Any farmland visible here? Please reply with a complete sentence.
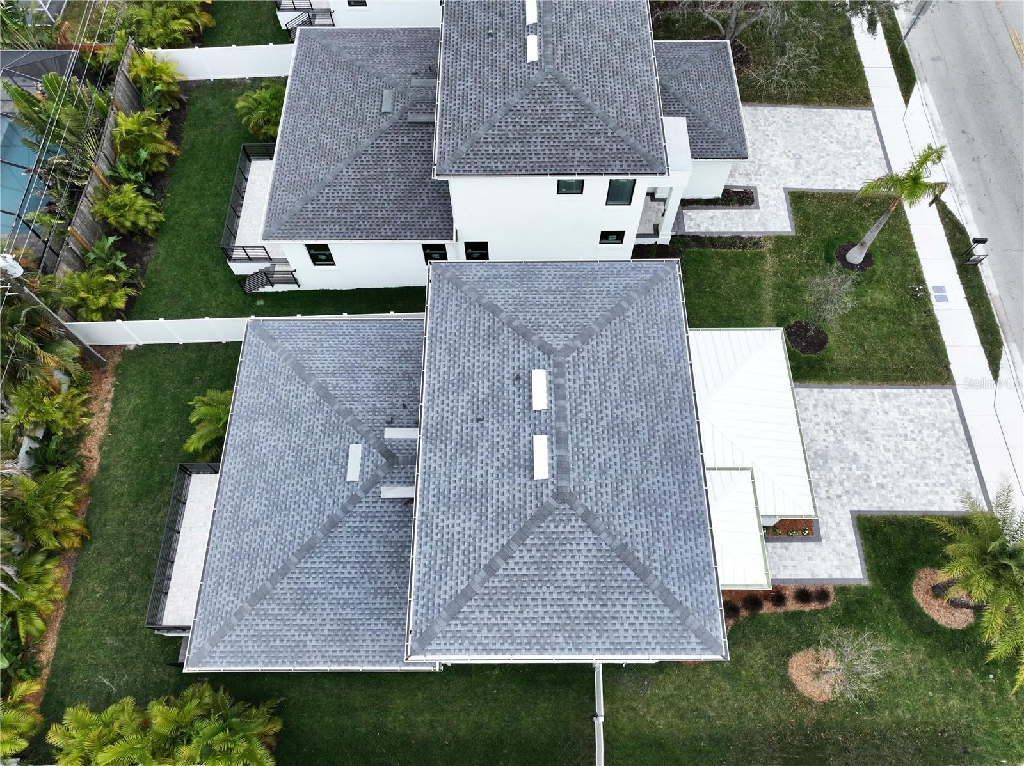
No, there is no farmland in the image.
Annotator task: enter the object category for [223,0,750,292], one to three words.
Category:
house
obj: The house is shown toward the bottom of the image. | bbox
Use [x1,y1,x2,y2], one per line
[146,259,819,673]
